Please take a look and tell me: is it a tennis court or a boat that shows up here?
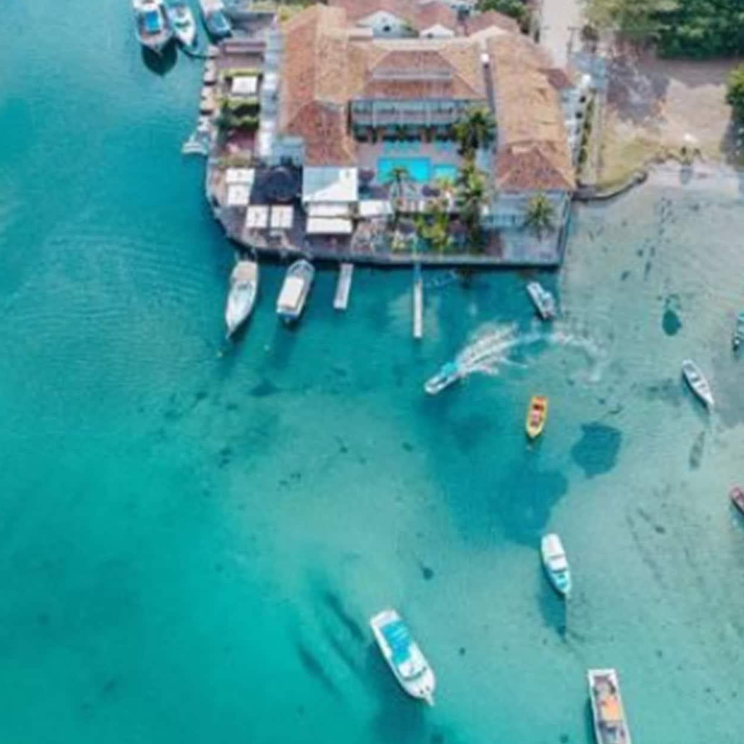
boat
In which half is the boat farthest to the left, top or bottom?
top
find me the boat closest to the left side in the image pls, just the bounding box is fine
[129,0,169,59]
